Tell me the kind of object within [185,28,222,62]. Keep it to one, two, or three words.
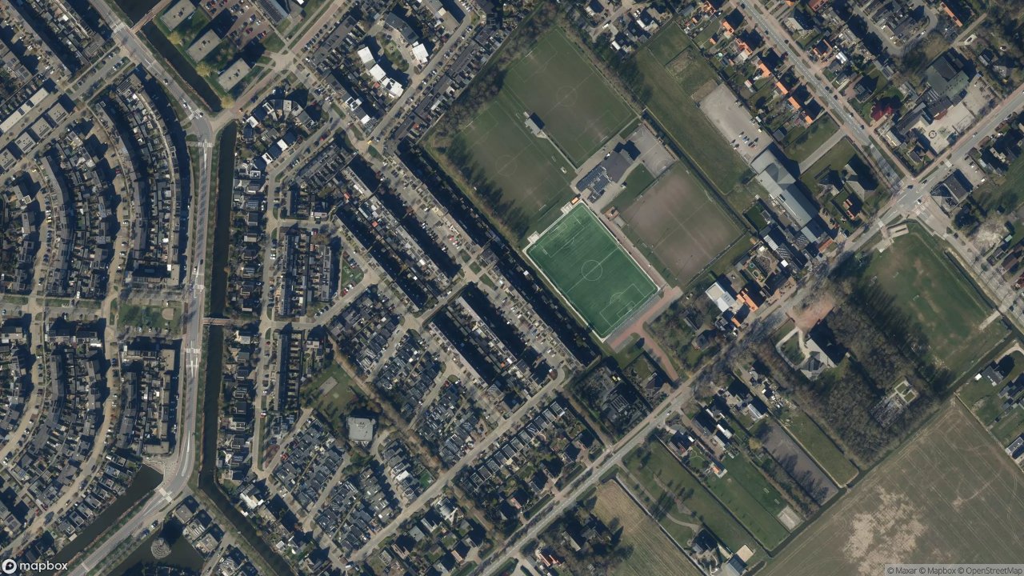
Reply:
building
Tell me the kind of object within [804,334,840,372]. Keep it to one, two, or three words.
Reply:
building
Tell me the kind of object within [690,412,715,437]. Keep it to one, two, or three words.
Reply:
house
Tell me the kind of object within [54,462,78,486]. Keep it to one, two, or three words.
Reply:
house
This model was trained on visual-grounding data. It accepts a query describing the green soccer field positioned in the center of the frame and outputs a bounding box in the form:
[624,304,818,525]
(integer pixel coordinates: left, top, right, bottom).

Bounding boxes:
[522,199,663,342]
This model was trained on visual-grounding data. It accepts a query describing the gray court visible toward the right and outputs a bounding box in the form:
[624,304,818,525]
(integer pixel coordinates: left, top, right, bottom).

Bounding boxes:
[625,123,676,177]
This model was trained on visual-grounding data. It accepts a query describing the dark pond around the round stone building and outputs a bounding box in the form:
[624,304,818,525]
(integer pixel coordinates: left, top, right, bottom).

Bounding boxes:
[112,512,205,576]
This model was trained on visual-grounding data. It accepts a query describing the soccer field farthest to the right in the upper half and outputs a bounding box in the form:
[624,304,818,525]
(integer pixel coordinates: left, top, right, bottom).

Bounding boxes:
[622,162,745,283]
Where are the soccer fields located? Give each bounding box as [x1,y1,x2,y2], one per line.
[500,26,633,165]
[622,162,745,283]
[522,199,663,342]
[450,90,577,225]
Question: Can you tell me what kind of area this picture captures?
residential area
